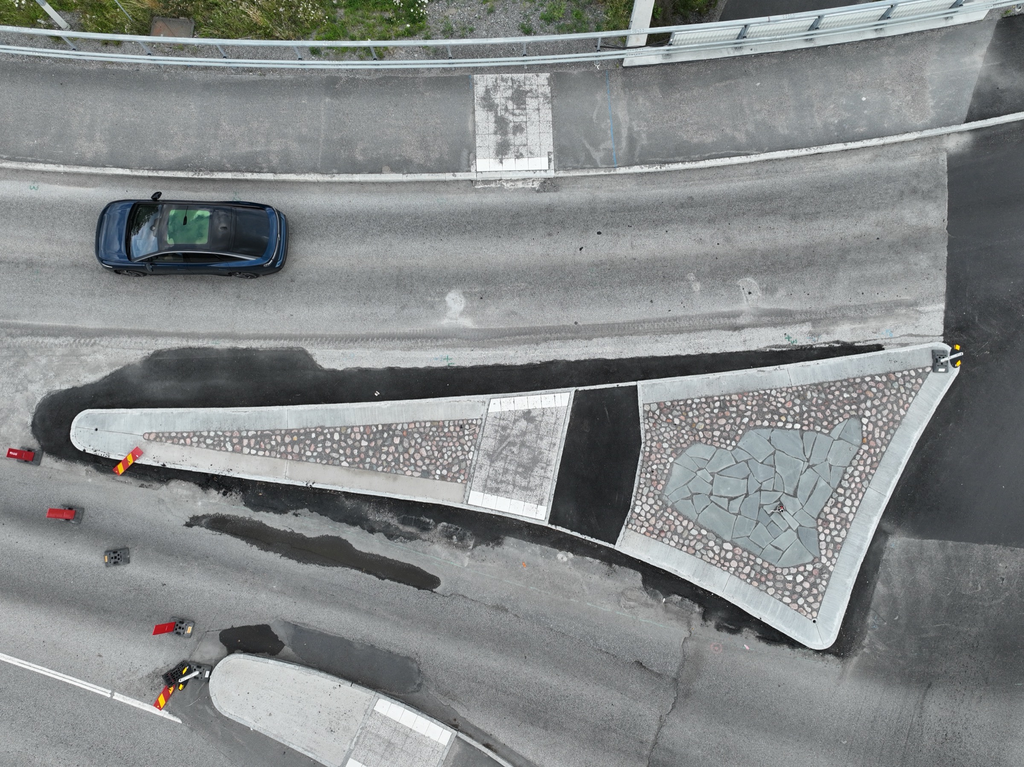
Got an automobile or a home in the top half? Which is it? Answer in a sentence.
The feature located in the top half is an automobile.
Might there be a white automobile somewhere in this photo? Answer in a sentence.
No, the picture doesn't show any white automobile.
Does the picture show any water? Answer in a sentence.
No, no water is visible.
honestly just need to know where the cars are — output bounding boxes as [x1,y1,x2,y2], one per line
[93,189,290,279]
